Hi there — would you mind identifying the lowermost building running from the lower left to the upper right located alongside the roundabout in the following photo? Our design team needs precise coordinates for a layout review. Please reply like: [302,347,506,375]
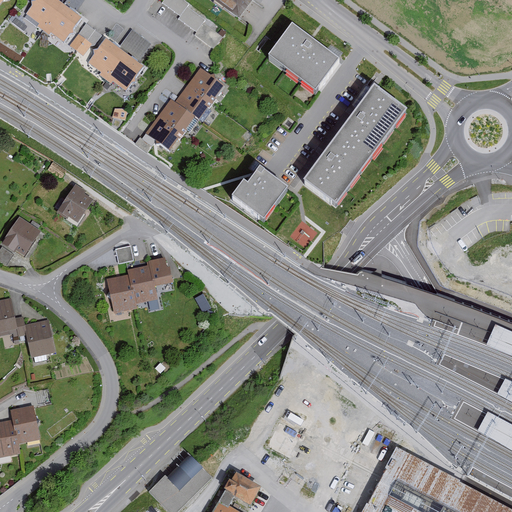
[305,82,408,210]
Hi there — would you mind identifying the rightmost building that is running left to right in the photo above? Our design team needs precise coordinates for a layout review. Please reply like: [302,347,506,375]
[362,446,512,512]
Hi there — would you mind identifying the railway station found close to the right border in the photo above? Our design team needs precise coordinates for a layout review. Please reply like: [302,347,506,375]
[434,313,512,500]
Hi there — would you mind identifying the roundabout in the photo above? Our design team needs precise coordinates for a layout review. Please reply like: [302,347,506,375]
[445,90,512,172]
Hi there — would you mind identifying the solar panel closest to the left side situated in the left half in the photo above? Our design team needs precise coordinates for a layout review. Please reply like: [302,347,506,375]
[112,62,136,86]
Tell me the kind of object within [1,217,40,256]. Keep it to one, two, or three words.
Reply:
house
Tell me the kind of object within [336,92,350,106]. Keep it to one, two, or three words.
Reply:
vehicle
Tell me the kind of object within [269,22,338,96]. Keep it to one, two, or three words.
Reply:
building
